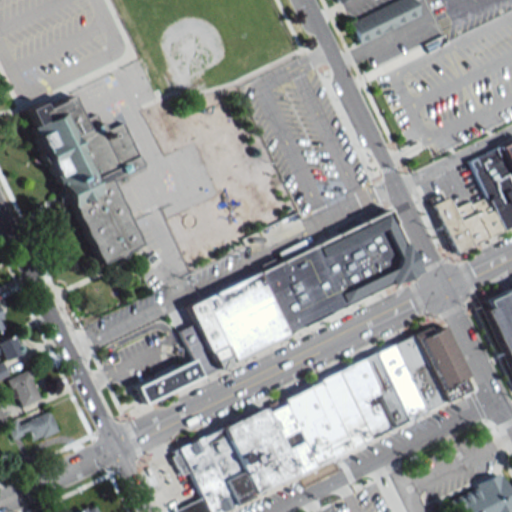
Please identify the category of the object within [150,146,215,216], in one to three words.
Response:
sports court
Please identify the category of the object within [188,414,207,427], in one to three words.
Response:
vehicle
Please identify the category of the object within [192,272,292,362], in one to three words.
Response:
building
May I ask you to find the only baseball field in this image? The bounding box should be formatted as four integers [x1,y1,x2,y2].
[114,0,297,98]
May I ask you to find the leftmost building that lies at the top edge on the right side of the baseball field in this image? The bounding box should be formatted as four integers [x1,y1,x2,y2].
[358,0,422,44]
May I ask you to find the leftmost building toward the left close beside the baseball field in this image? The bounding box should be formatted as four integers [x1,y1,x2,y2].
[36,98,146,264]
